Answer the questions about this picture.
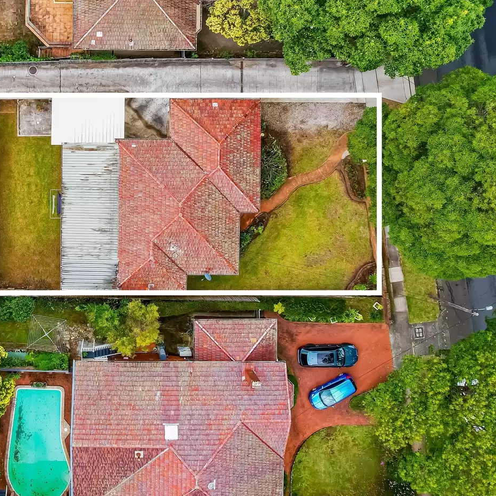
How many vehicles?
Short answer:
2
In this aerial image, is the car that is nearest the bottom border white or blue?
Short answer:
blue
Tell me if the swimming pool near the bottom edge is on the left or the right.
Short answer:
left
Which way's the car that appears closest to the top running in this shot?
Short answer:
from side to side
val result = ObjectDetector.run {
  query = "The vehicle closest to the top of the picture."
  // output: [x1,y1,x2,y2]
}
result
[296,341,356,371]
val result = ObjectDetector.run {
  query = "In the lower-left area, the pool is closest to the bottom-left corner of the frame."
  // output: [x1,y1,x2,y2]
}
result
[2,384,71,496]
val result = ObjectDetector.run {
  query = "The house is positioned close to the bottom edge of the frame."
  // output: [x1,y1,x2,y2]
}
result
[71,355,295,496]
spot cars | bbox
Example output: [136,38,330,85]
[303,369,359,409]
[296,341,356,371]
